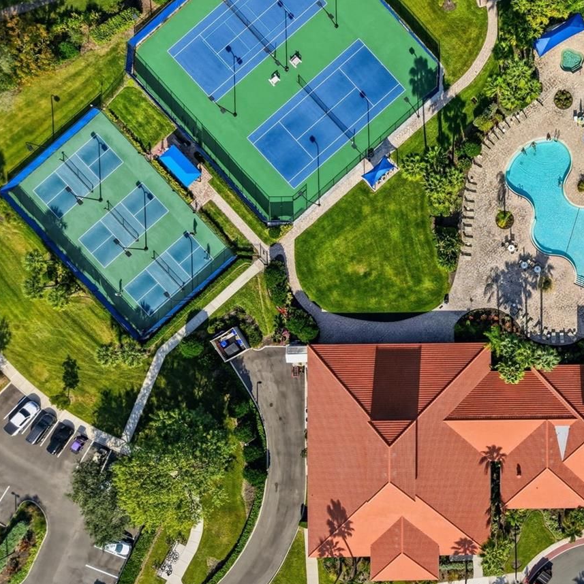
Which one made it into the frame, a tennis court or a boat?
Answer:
tennis court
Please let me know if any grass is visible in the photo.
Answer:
Yes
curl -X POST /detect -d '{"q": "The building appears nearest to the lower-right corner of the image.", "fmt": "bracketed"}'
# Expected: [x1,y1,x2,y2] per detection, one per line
[307,345,584,581]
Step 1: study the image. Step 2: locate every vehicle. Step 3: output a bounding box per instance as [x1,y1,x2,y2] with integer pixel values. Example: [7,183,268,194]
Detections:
[100,539,132,560]
[532,568,553,584]
[1,401,37,435]
[43,422,73,457]
[65,436,85,453]
[22,412,55,447]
